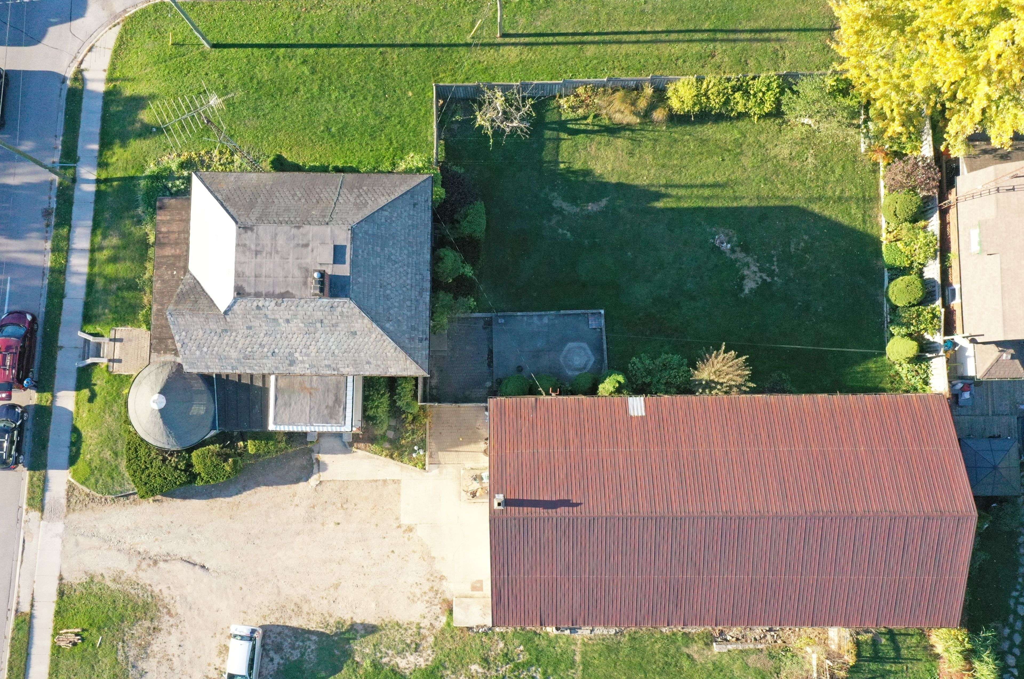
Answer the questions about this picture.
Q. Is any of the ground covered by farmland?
No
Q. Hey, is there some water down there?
No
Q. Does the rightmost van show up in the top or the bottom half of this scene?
bottom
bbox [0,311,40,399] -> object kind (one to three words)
car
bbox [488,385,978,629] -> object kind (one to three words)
barn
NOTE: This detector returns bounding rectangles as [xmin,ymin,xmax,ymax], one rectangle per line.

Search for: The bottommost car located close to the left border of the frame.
[0,403,30,474]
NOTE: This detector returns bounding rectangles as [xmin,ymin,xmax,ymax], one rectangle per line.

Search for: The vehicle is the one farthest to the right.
[216,621,263,679]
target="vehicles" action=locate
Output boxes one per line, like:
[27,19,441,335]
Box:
[216,621,263,679]
[0,311,40,399]
[0,66,12,132]
[0,403,30,474]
